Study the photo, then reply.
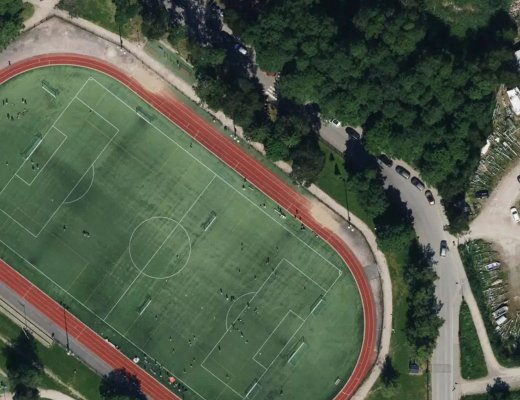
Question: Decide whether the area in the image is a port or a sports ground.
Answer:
sports ground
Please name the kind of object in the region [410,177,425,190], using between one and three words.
vehicle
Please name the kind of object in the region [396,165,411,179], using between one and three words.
vehicle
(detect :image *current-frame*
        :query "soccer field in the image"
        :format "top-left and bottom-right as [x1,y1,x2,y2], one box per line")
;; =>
[0,66,364,400]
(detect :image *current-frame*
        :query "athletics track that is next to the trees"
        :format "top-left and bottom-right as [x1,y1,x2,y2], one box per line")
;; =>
[0,52,378,400]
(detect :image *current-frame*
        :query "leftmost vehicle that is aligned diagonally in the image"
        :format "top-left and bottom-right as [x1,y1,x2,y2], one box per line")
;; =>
[233,42,249,56]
